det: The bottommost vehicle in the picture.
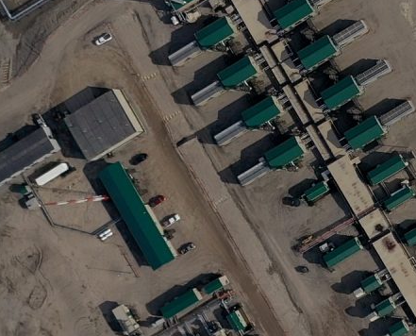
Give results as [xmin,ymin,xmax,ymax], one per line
[178,242,198,256]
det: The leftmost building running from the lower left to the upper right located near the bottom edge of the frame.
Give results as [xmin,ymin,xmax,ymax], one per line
[158,286,206,324]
